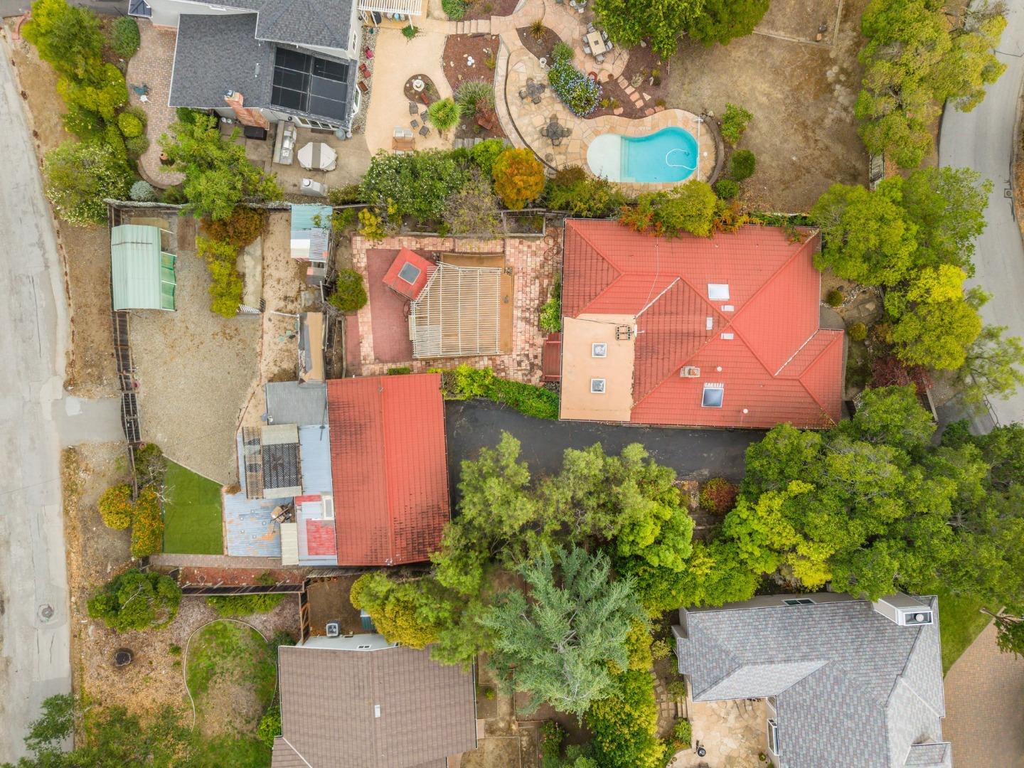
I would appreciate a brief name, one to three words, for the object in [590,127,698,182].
swimming pool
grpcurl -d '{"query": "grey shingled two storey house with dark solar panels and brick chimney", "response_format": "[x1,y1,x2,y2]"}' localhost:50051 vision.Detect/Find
[127,0,361,134]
